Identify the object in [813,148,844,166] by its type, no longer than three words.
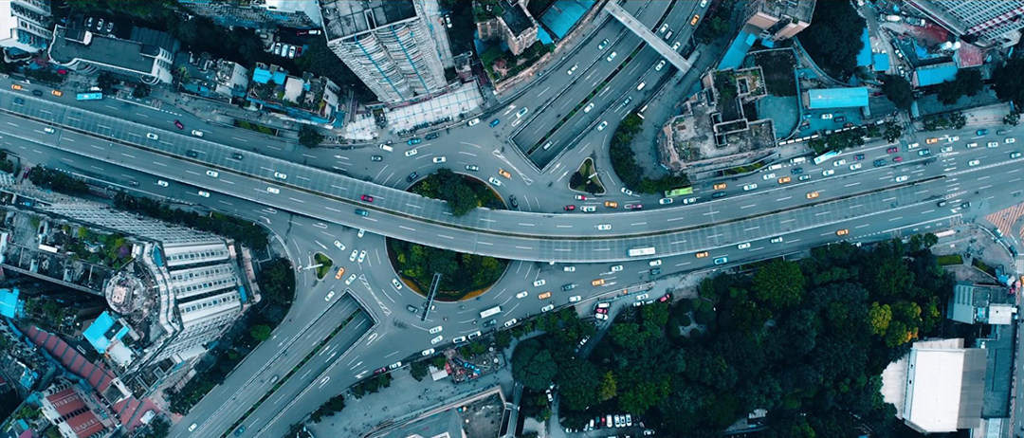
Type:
vehicle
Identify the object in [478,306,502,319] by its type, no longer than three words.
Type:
vehicle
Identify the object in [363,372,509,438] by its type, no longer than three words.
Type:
building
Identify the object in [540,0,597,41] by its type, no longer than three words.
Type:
shed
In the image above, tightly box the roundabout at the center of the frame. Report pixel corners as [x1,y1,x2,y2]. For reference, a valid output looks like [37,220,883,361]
[385,171,510,302]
